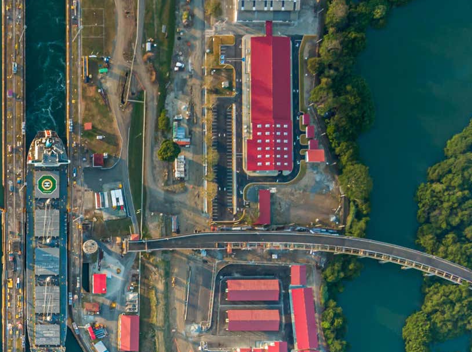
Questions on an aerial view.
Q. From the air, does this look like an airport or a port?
port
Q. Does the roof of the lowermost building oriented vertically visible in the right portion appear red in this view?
Yes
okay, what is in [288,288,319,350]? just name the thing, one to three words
building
